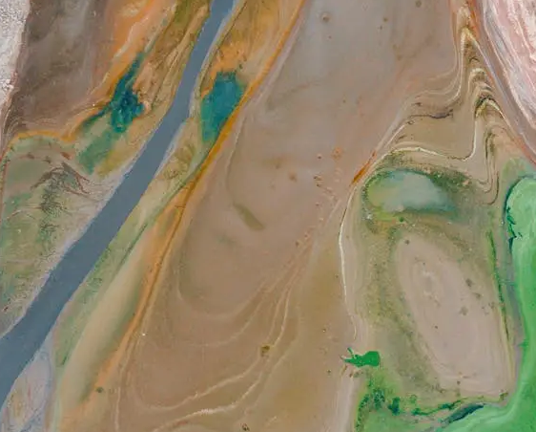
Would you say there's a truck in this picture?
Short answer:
No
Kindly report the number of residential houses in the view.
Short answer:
0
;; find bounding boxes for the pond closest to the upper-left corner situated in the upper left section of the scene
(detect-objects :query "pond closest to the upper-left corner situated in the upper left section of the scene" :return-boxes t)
[80,51,146,134]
